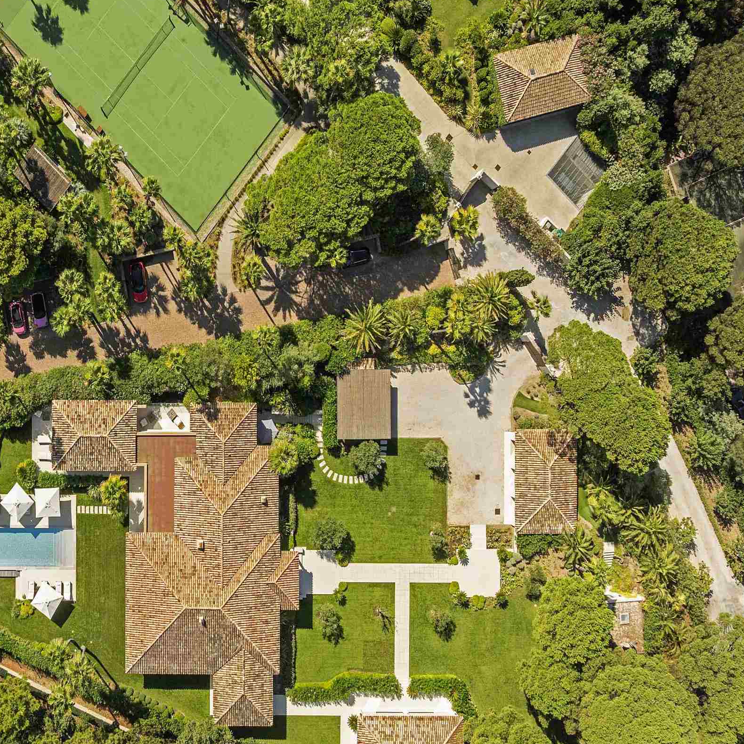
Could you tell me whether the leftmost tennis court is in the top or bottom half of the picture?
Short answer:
top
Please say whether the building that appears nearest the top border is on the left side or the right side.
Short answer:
right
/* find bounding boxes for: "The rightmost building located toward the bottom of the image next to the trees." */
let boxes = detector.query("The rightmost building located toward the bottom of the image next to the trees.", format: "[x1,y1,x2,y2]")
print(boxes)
[511,429,578,534]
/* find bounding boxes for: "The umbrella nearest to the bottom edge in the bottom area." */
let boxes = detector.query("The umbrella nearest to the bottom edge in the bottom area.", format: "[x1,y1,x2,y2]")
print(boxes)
[31,583,64,619]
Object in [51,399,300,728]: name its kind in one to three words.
house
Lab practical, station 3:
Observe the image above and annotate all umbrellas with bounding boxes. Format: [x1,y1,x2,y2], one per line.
[261,419,279,443]
[35,487,61,517]
[31,583,64,619]
[1,483,34,523]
